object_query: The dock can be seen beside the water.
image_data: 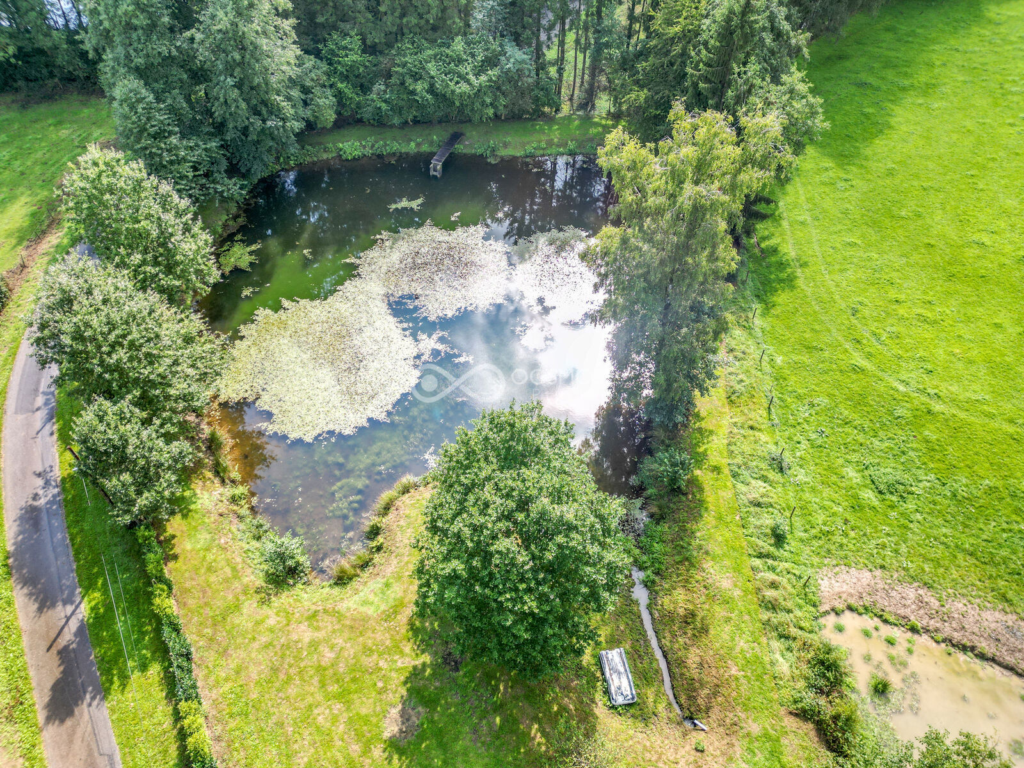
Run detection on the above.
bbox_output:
[430,132,463,172]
